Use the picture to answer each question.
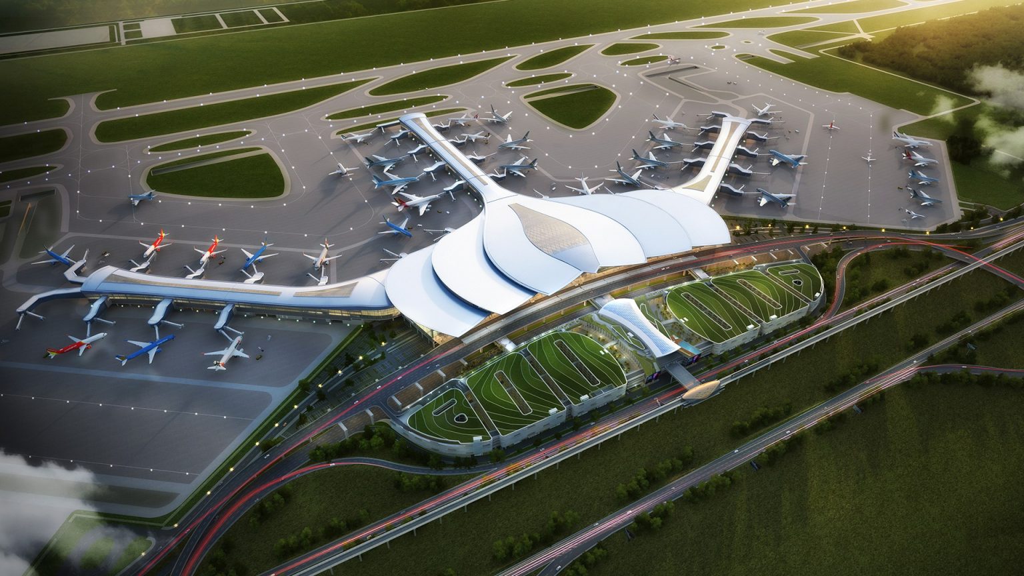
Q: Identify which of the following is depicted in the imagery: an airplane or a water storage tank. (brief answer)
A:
airplane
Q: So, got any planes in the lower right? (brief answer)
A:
No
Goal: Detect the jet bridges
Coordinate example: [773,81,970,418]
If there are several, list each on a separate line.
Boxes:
[84,298,118,339]
[398,144,431,163]
[727,163,772,178]
[432,119,451,132]
[15,288,85,331]
[748,116,787,127]
[379,247,405,263]
[696,111,730,120]
[486,167,506,182]
[666,157,707,172]
[638,179,669,190]
[383,130,414,147]
[680,141,716,153]
[127,250,158,275]
[735,146,774,159]
[215,306,246,344]
[532,188,548,198]
[62,247,90,286]
[743,131,781,144]
[151,301,186,342]
[415,161,448,182]
[684,125,722,136]
[238,261,267,285]
[305,264,330,286]
[182,257,210,281]
[467,150,498,164]
[719,183,763,198]
[368,121,401,134]
[447,134,468,147]
[435,180,467,203]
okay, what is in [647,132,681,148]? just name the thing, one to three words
airplane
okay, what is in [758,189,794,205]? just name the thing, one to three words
airplane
